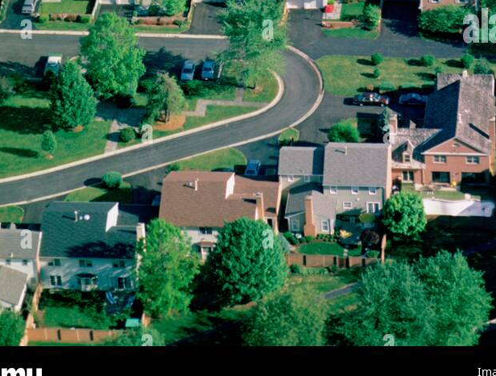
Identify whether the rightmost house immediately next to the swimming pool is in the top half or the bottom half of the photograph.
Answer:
top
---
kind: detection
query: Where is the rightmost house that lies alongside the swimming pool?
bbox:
[388,71,496,184]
